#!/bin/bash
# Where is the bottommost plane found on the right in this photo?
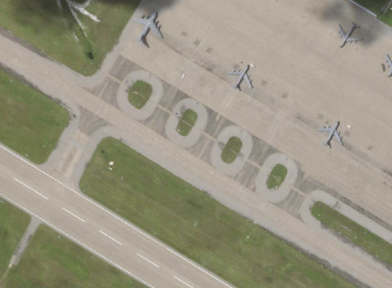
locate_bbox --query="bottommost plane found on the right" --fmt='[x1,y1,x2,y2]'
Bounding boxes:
[320,121,344,146]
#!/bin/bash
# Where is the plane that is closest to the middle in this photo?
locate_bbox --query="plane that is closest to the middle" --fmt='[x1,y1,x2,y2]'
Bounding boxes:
[229,63,254,89]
